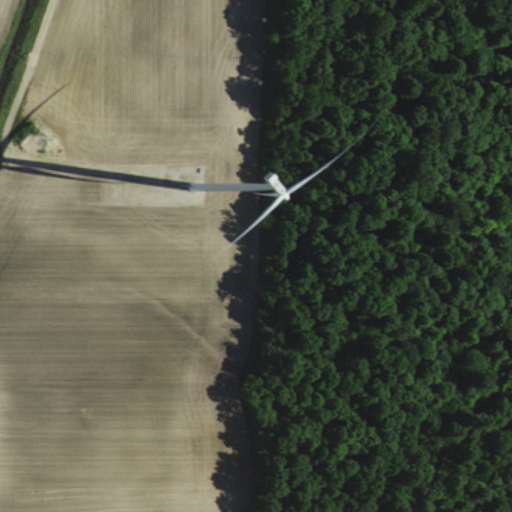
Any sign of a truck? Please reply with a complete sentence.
No, there is no truck in the image.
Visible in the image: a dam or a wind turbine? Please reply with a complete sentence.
The one in the frame is a wind turbine.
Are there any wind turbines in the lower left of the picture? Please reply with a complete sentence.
No, no wind turbine is visible in the lower left of the picture.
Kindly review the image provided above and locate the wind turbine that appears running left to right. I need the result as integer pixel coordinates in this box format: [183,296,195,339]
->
[185,116,379,250]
